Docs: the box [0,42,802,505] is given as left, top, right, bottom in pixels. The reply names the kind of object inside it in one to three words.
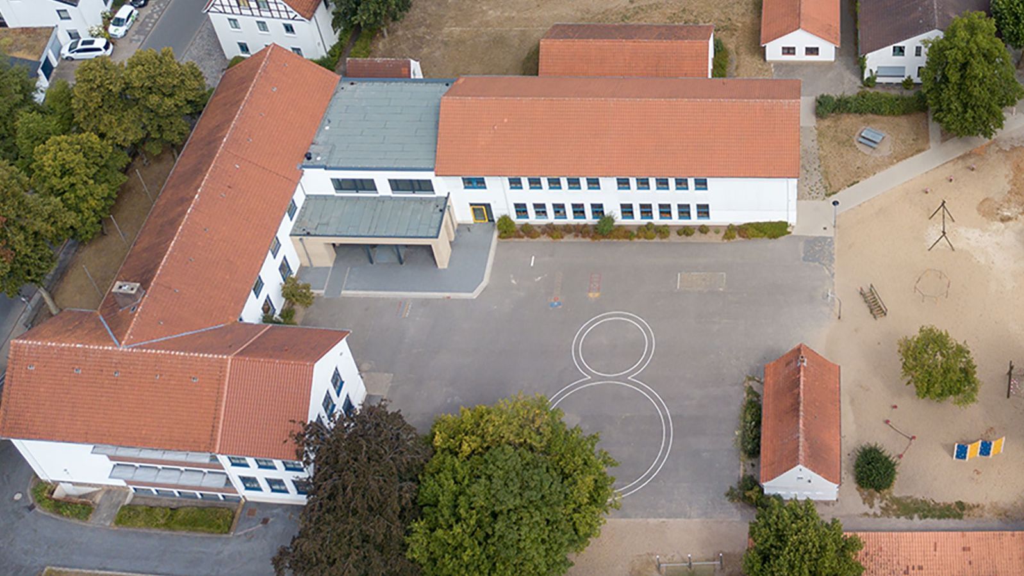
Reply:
building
